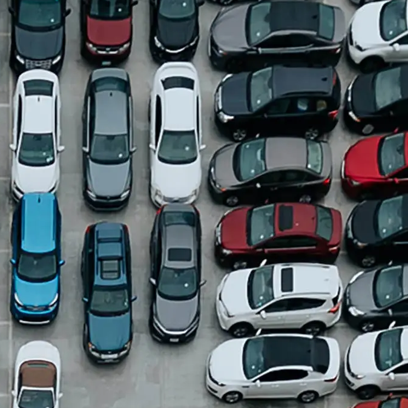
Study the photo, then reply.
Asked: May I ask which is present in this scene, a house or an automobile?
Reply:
automobile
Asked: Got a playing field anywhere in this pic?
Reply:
No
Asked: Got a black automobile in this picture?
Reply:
Yes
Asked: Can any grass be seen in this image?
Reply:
No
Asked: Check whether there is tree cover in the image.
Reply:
No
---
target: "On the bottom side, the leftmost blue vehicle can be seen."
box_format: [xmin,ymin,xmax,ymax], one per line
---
[9,197,67,324]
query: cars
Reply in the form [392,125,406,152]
[150,66,207,205]
[348,325,408,401]
[215,200,344,272]
[349,192,408,267]
[348,61,408,135]
[351,0,408,69]
[211,0,347,73]
[9,197,67,324]
[347,261,408,333]
[79,0,140,61]
[80,224,138,362]
[82,73,138,209]
[11,71,65,201]
[211,135,335,206]
[215,64,343,142]
[7,0,72,71]
[344,124,408,201]
[148,0,207,58]
[207,333,342,404]
[150,205,207,343]
[11,341,64,408]
[219,263,345,338]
